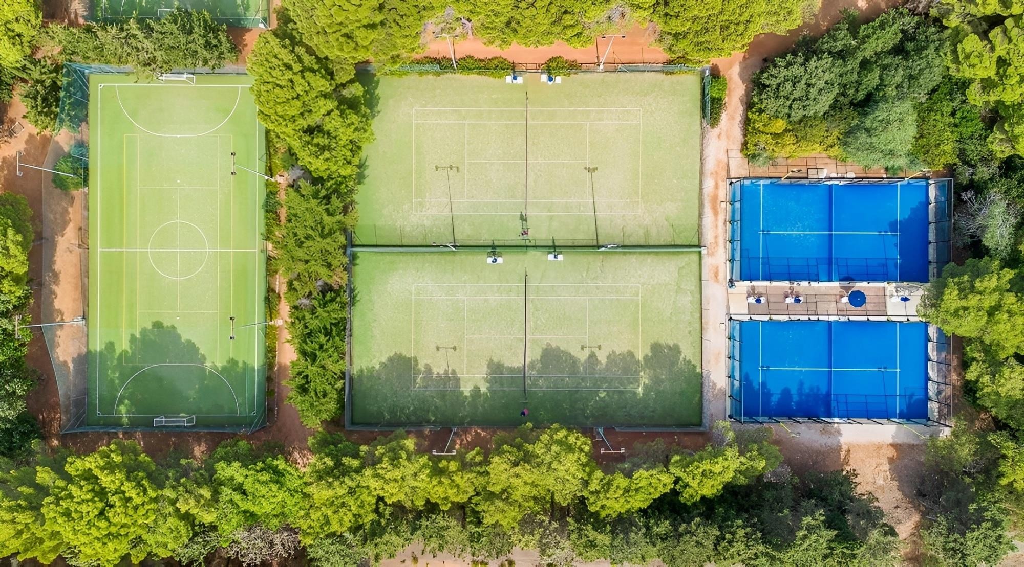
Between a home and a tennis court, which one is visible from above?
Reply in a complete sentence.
Visible in the photo is a tennis court.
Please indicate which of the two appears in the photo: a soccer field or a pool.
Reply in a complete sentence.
I can see a soccer field in this picture.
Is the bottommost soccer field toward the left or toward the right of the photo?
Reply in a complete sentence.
It is on the left.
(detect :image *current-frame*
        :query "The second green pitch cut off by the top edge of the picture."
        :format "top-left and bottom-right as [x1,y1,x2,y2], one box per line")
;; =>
[93,0,269,24]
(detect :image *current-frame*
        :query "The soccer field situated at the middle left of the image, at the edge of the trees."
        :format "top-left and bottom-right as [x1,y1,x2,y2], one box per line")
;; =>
[86,74,267,427]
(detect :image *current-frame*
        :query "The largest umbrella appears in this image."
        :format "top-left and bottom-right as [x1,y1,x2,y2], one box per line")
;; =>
[846,290,866,307]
